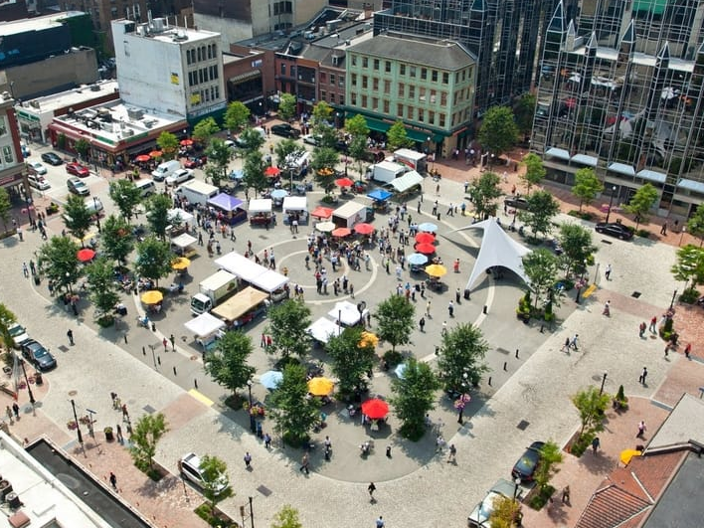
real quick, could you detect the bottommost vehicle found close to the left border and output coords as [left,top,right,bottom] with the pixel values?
[16,341,66,377]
